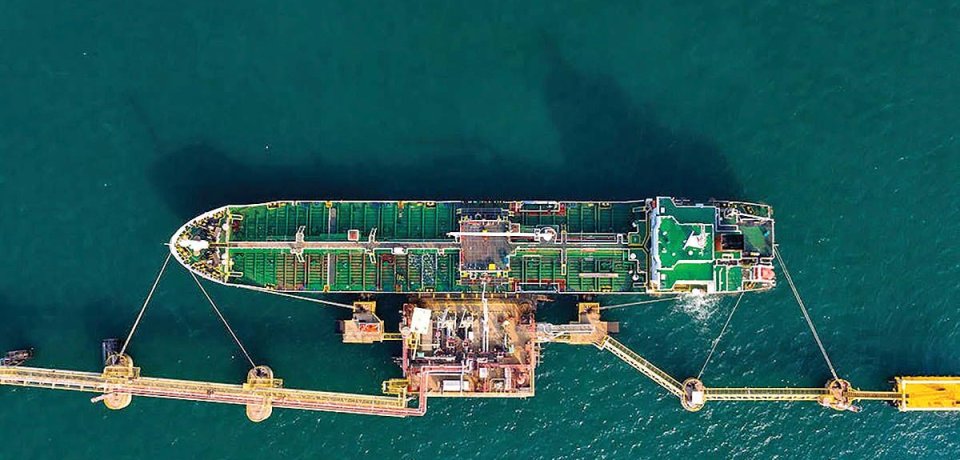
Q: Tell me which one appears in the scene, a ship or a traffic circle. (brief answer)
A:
ship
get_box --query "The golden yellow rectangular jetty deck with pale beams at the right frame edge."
[891,374,960,411]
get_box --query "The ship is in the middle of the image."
[166,197,776,294]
